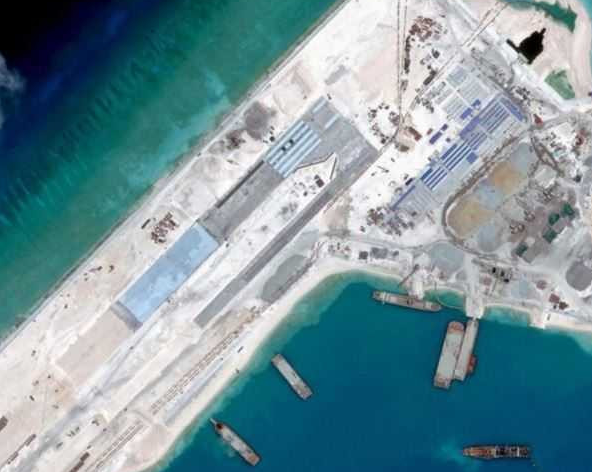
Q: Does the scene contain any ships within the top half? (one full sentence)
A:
No, no ship is visible within the top half.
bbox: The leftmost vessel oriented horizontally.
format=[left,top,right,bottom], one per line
[372,292,443,310]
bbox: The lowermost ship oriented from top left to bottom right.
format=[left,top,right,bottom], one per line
[210,418,260,465]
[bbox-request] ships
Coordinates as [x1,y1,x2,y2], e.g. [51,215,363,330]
[462,446,529,457]
[210,418,260,465]
[435,321,463,390]
[372,292,443,310]
[453,320,478,381]
[271,354,312,399]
